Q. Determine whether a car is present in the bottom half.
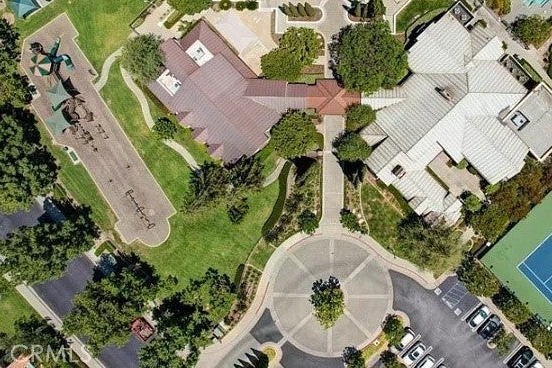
Yes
